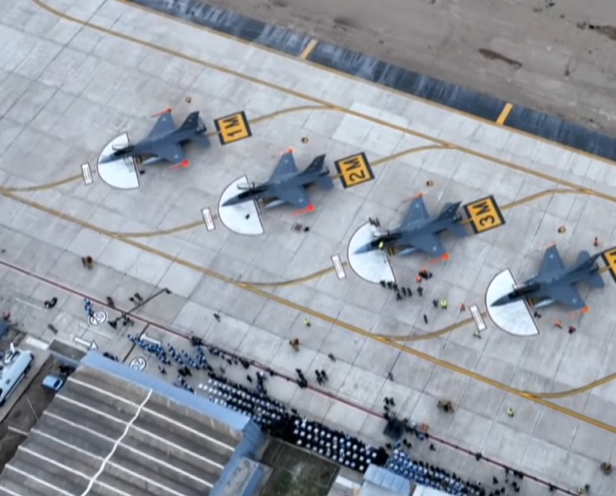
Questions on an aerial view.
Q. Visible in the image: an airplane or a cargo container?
airplane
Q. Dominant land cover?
paved ground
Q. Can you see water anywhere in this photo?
No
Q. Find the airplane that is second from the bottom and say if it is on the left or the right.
right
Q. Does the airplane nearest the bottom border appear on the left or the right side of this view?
right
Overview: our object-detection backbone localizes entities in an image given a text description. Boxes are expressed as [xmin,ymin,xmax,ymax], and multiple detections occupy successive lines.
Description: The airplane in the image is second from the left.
[220,149,329,215]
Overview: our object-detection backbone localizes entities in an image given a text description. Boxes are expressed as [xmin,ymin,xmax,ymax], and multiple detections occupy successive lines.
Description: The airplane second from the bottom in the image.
[351,194,463,265]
